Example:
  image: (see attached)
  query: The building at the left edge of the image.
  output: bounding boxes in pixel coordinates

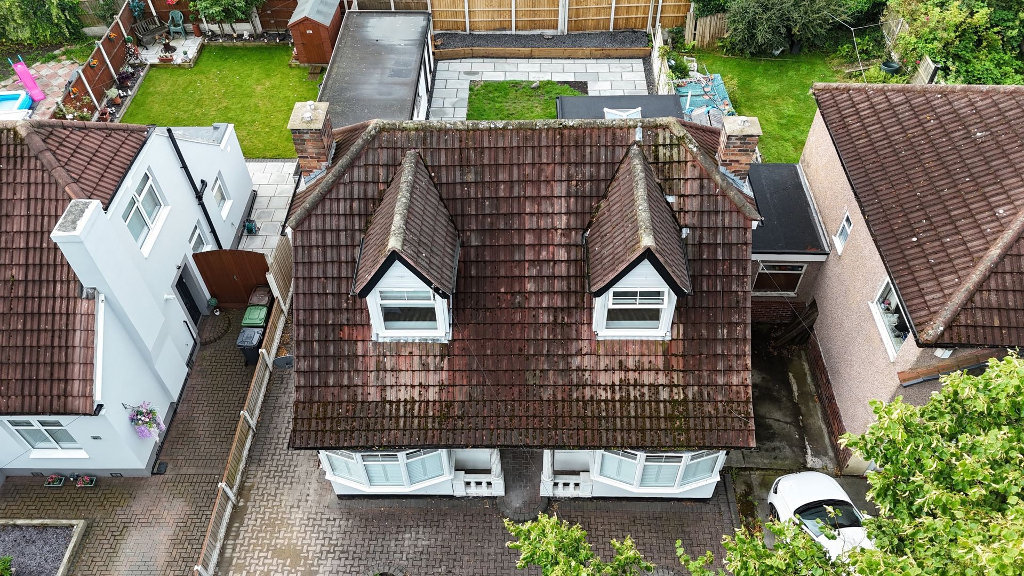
[0,115,254,475]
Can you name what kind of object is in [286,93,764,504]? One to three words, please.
house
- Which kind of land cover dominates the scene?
buildings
